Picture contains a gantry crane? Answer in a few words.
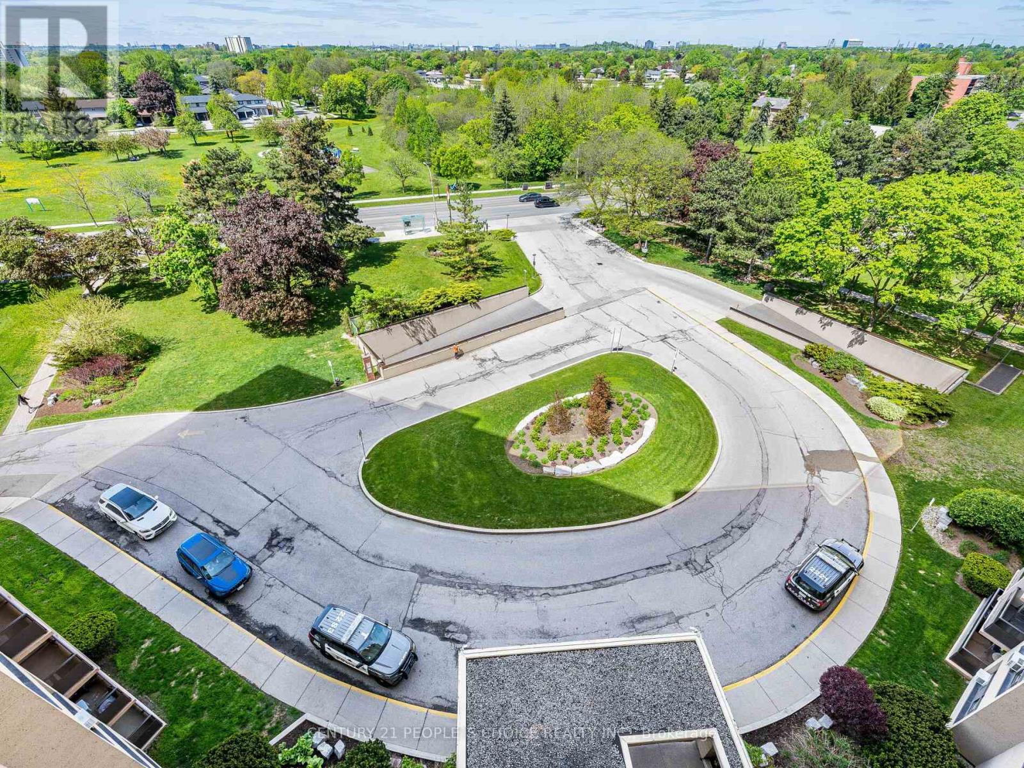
No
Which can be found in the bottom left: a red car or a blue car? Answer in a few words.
blue car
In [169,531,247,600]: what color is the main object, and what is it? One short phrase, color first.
blue car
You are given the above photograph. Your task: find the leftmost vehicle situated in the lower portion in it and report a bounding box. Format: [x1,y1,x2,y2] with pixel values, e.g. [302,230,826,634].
[94,483,173,539]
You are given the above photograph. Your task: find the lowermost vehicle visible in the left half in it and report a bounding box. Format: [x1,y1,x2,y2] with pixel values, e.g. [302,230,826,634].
[311,608,422,691]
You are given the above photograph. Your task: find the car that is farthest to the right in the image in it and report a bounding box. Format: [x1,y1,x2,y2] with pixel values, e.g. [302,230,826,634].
[788,533,870,608]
